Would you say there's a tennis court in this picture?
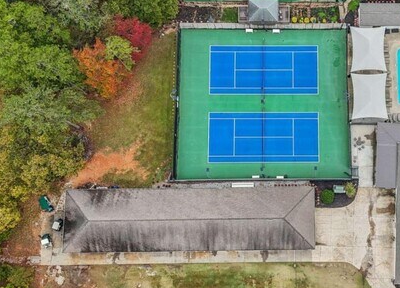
Yes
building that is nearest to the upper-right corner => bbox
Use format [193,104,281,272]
[359,3,400,30]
